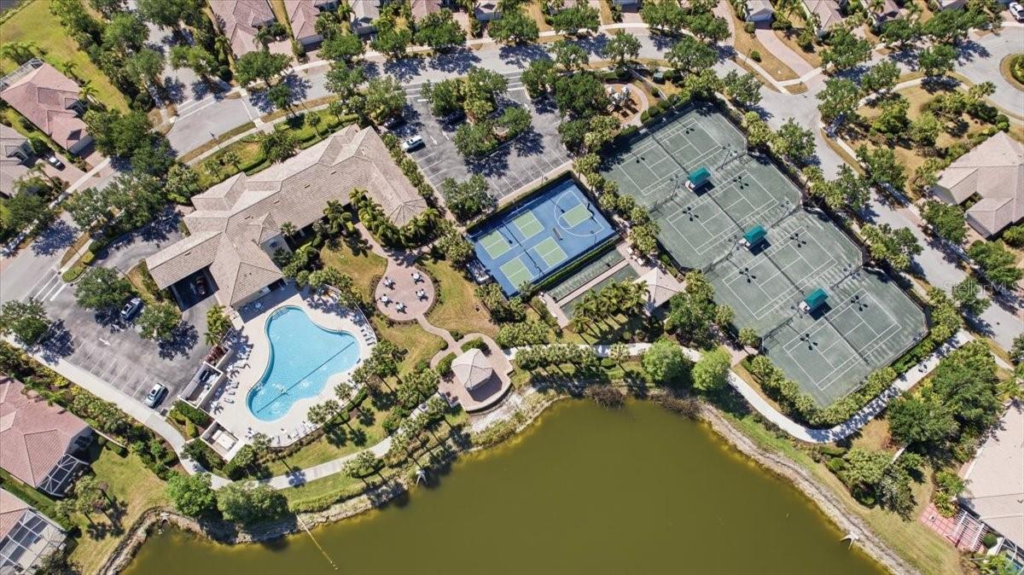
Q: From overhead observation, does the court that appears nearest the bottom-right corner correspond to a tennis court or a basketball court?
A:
tennis court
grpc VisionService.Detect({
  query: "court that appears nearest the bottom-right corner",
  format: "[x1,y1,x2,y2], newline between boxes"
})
[762,266,927,407]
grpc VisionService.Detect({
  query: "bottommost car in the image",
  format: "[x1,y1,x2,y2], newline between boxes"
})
[146,382,167,405]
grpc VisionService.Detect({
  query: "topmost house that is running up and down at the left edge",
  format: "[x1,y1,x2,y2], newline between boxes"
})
[0,107,42,198]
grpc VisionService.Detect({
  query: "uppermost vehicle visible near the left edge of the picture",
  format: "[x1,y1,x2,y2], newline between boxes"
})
[47,152,64,167]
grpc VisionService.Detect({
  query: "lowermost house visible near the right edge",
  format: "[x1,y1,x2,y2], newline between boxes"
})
[957,405,1024,544]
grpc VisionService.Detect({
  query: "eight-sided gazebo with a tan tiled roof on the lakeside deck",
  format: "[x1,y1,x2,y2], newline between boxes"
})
[451,348,492,392]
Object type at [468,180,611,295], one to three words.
basketball court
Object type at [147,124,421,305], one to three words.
building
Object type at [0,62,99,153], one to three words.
house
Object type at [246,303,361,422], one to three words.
swimming pool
